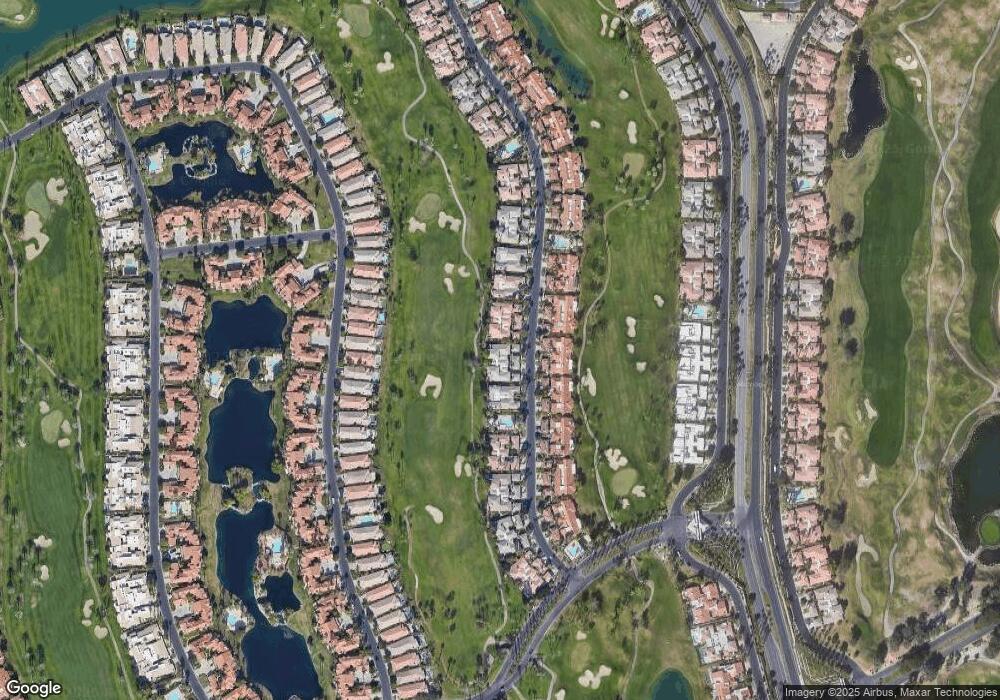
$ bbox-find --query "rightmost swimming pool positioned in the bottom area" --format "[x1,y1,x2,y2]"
[787,486,818,504]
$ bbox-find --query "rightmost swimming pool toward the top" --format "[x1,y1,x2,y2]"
[797,175,819,191]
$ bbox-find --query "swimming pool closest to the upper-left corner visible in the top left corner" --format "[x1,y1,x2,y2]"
[117,32,145,52]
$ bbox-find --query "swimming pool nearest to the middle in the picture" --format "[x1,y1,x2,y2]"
[497,414,515,430]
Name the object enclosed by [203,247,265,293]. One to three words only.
house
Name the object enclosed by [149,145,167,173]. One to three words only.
swimming pool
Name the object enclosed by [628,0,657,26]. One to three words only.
swimming pool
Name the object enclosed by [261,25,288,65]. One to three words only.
house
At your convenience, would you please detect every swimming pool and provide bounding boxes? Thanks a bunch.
[502,139,521,157]
[683,305,711,318]
[317,108,342,126]
[149,145,167,173]
[351,514,382,526]
[628,0,657,26]
[265,354,282,380]
[797,175,819,191]
[205,371,224,397]
[122,253,138,275]
[550,234,576,250]
[227,608,246,631]
[235,141,252,169]
[163,501,191,516]
[497,414,515,430]
[161,683,186,700]
[787,486,818,504]
[562,540,584,560]
[464,0,485,11]
[117,32,145,52]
